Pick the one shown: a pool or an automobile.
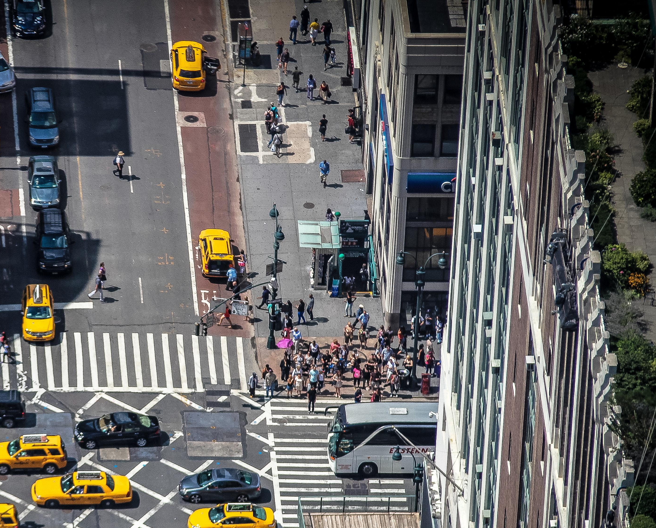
automobile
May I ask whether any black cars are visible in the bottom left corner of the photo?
Yes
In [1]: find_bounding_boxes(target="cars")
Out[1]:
[31,472,132,513]
[168,45,221,95]
[195,235,249,287]
[174,470,266,508]
[24,88,63,145]
[0,53,19,96]
[72,415,163,452]
[0,434,69,478]
[185,504,278,528]
[33,209,75,272]
[0,504,21,528]
[19,281,59,341]
[0,388,33,433]
[25,159,65,212]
